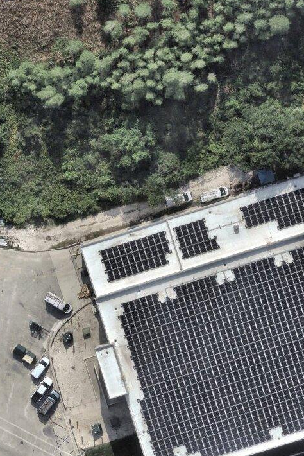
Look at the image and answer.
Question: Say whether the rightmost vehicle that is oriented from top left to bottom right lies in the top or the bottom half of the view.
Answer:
bottom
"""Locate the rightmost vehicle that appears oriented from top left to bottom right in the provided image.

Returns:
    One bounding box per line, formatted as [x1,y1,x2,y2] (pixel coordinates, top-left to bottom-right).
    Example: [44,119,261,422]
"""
[43,291,70,314]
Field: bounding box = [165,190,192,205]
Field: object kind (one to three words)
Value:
vehicle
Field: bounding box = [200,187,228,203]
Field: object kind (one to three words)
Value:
vehicle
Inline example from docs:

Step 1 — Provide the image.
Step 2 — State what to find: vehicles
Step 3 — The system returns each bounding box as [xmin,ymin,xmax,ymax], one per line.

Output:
[200,187,228,203]
[37,389,58,415]
[165,190,192,205]
[30,378,51,405]
[43,291,70,314]
[30,357,49,381]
